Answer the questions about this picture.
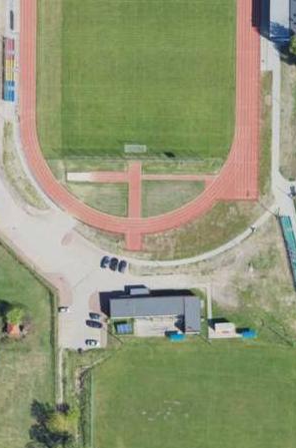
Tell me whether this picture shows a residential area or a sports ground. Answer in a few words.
sports ground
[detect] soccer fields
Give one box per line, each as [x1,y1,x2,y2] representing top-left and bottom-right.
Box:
[62,0,234,157]
[94,338,296,448]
